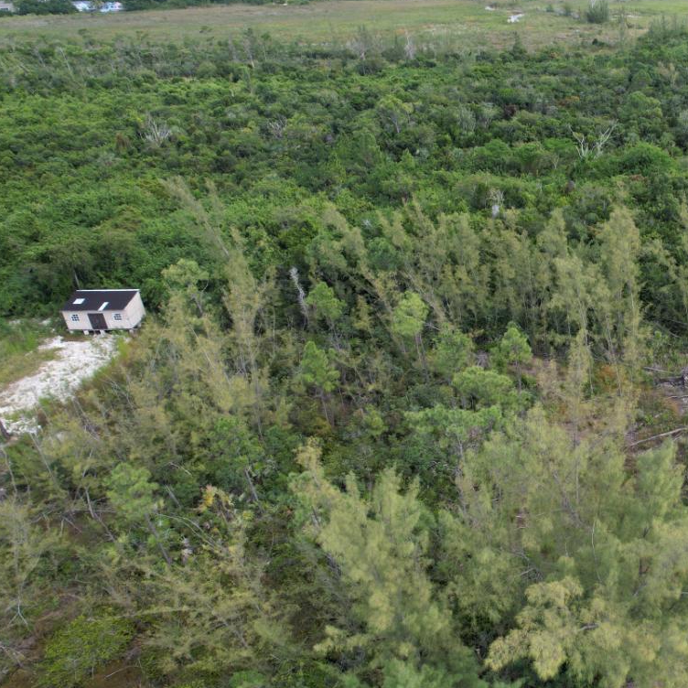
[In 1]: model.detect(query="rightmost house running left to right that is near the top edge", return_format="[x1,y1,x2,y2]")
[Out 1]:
[94,0,127,13]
